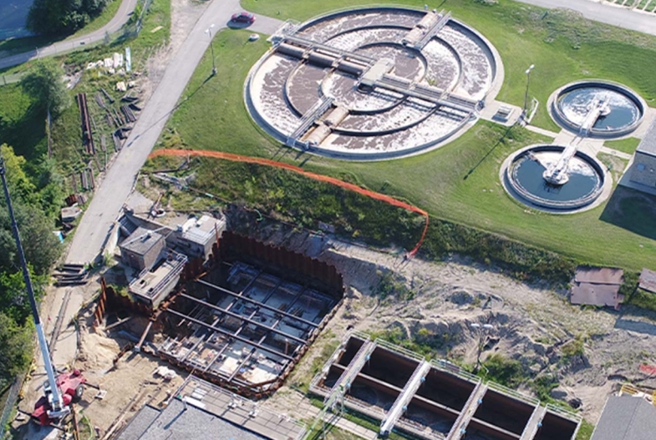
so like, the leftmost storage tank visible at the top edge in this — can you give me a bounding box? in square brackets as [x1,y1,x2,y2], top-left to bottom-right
[243,1,502,163]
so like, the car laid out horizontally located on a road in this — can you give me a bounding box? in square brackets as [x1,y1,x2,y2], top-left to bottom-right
[229,11,254,24]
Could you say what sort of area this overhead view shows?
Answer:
industrial area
